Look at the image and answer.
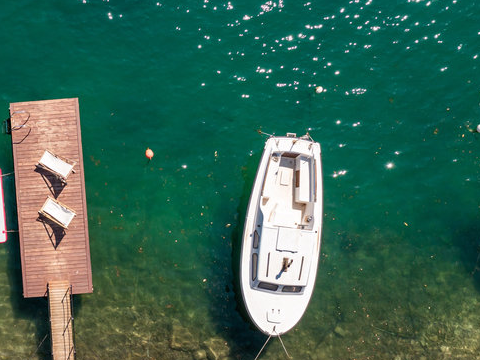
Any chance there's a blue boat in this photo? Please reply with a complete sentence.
No, I find no blue boat anywhere in the image.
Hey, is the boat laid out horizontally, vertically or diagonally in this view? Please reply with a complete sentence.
In this picture, the boat lies vertically.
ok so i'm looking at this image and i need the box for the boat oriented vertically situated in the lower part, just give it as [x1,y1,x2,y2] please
[239,131,323,337]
